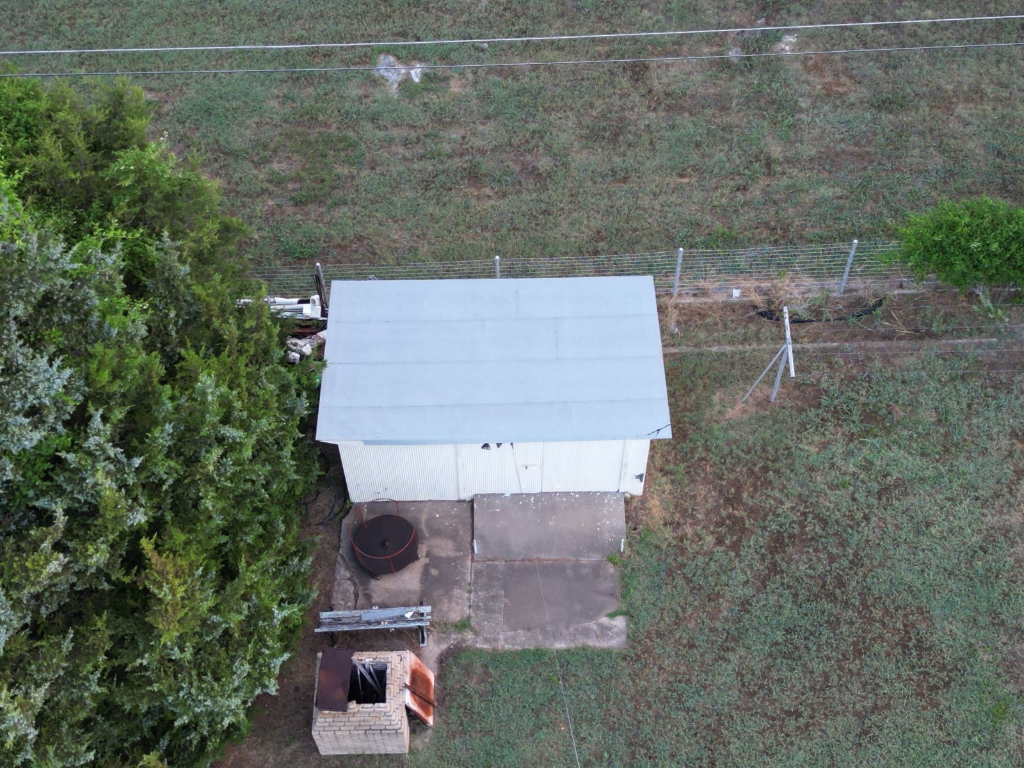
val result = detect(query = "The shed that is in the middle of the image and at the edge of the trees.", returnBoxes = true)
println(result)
[316,276,671,501]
